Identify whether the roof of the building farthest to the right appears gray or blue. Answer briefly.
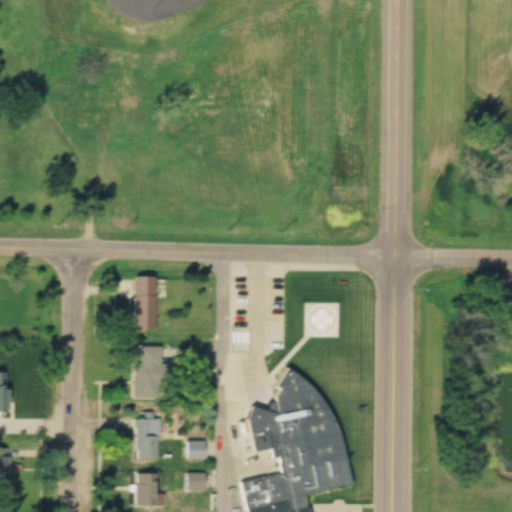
gray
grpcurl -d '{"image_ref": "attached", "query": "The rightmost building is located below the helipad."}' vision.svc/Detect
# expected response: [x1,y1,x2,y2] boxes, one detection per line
[240,368,354,512]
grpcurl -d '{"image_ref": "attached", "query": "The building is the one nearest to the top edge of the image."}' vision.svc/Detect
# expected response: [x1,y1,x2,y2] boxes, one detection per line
[136,277,158,330]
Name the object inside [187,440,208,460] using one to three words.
building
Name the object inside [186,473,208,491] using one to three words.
building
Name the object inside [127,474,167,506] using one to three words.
house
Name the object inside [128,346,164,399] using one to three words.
house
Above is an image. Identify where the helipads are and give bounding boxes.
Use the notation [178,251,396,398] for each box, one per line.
[304,302,339,338]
